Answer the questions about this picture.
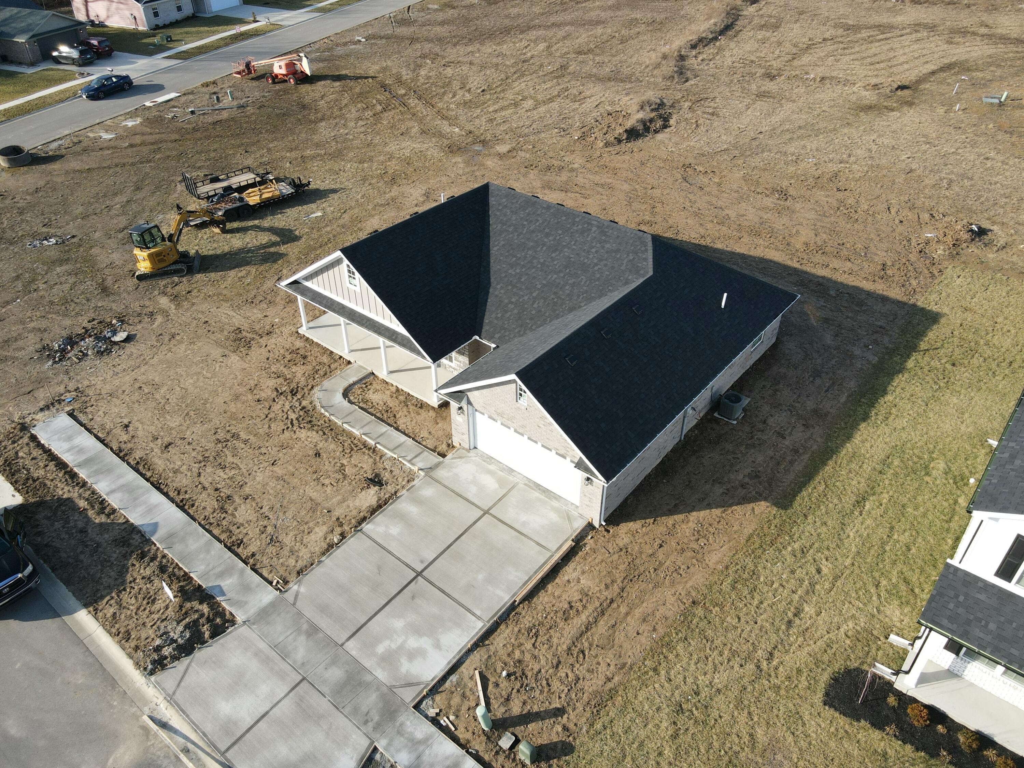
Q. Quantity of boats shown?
0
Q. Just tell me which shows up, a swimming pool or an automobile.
automobile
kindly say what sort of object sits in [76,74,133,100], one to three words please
car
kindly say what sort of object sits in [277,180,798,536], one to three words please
house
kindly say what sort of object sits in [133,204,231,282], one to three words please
work vehicle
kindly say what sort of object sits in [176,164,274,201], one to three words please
trailer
